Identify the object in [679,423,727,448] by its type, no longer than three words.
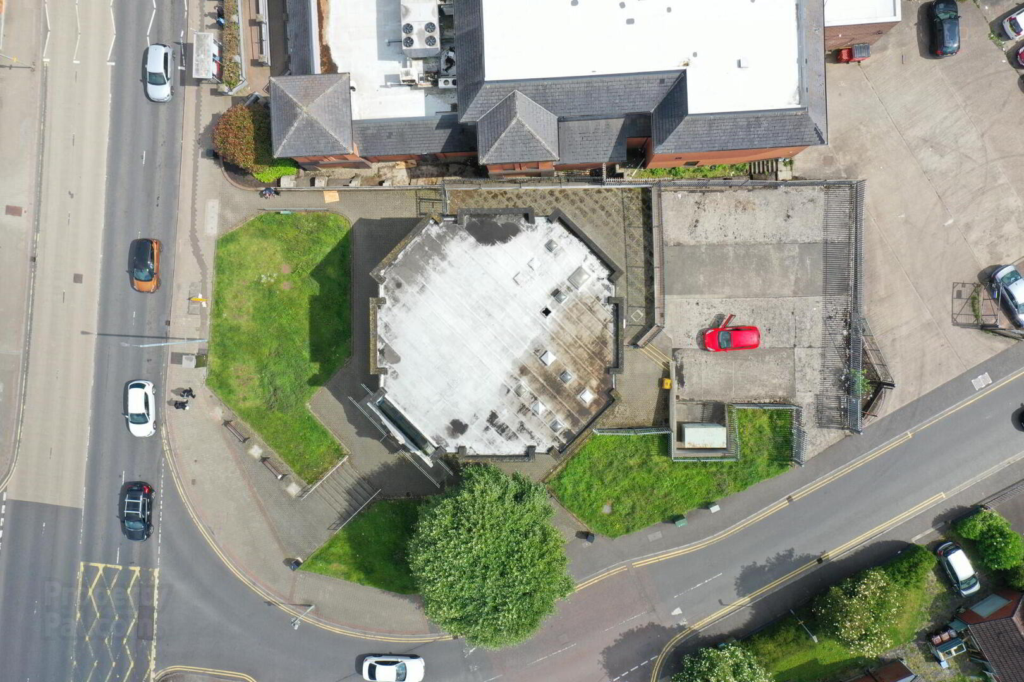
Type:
shipping container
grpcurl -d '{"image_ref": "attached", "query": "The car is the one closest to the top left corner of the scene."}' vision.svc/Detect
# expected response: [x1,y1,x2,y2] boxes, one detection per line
[143,44,177,104]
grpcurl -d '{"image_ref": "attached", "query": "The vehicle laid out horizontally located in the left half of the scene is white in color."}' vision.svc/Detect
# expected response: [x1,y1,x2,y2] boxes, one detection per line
[362,650,425,682]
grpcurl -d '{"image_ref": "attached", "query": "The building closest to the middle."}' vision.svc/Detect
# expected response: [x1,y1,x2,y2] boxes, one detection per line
[366,209,623,468]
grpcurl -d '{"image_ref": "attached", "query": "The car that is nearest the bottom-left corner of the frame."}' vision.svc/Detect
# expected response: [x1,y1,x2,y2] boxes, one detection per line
[119,481,155,541]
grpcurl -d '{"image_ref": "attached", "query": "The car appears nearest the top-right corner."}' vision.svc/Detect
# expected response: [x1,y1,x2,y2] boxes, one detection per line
[995,4,1024,39]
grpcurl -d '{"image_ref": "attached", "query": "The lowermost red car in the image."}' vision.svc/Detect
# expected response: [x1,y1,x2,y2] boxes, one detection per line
[702,313,759,352]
